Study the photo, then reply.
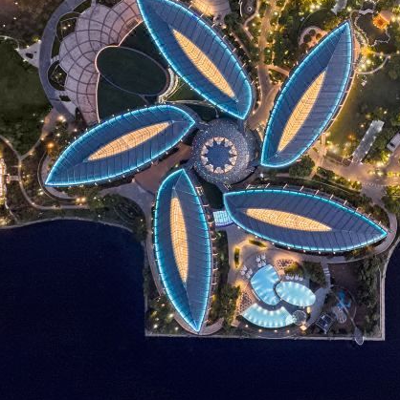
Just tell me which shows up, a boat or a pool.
pool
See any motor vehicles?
No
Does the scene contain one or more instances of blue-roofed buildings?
Yes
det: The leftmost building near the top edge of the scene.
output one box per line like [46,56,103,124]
[133,0,255,122]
